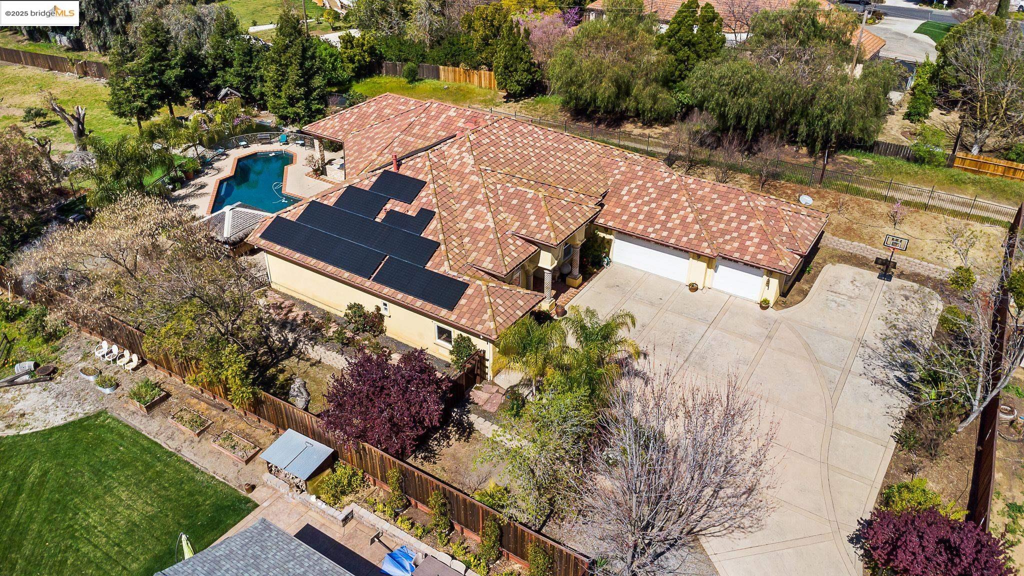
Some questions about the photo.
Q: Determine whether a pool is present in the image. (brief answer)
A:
Yes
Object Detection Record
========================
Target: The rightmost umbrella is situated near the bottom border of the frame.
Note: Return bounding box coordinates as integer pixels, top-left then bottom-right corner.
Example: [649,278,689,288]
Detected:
[372,527,419,576]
